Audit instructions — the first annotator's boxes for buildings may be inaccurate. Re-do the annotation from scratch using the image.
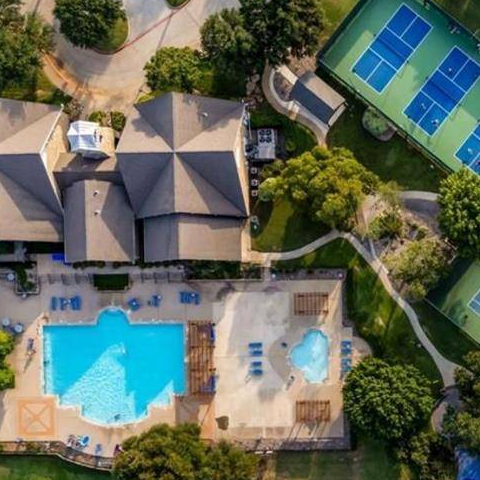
[292,72,348,128]
[0,92,252,263]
